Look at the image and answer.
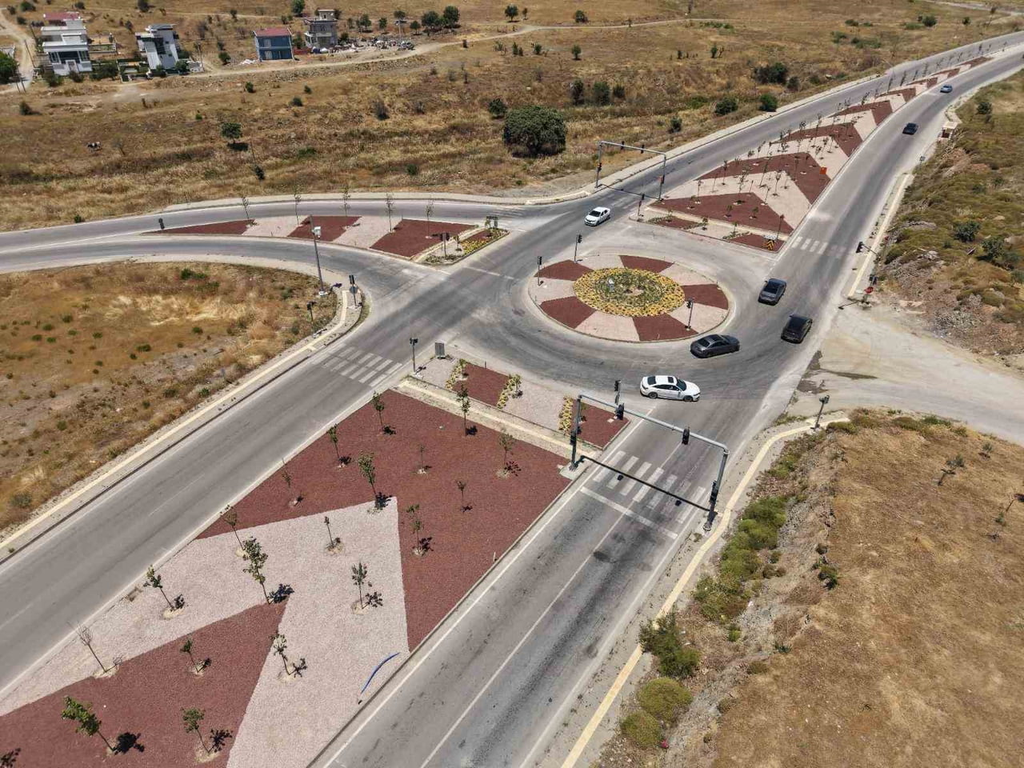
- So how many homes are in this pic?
four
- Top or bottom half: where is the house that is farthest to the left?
top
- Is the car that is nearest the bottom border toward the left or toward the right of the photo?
right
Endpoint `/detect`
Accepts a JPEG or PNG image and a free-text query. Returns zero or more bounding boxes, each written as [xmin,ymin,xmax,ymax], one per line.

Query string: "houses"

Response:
[33,16,94,77]
[299,6,337,50]
[246,27,294,63]
[131,23,188,72]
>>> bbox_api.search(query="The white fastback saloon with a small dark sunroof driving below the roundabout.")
[643,374,701,400]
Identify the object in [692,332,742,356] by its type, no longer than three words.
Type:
car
